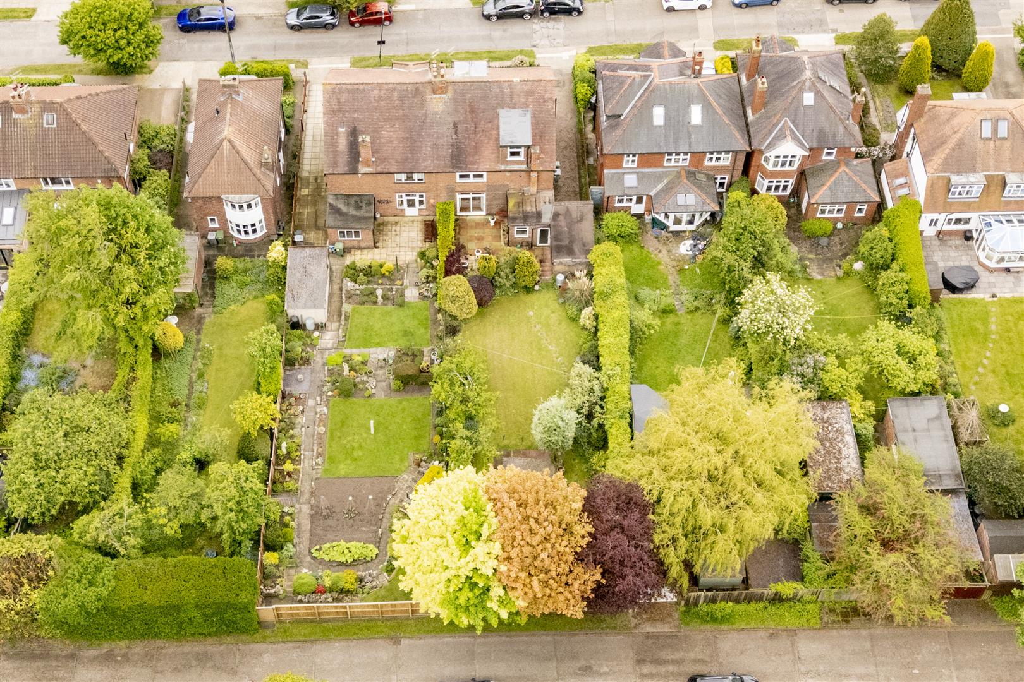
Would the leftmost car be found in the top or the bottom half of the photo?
top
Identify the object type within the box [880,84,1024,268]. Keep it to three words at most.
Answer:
house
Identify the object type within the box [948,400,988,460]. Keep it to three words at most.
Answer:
gazebo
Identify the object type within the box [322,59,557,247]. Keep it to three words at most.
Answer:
house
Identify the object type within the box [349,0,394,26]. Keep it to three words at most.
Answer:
car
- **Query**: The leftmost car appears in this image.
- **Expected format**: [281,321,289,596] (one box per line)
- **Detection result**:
[177,2,237,31]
